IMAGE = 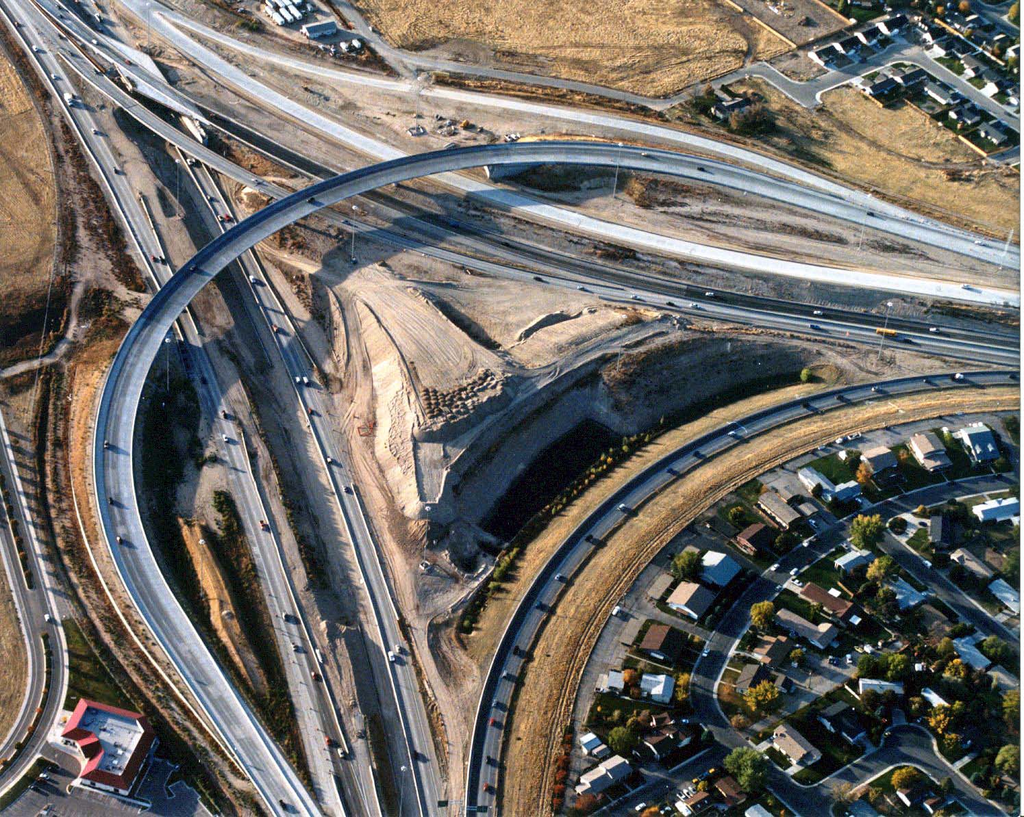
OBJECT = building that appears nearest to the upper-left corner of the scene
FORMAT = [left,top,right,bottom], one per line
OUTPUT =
[300,21,339,38]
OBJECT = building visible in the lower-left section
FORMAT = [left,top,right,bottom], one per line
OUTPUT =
[62,699,157,794]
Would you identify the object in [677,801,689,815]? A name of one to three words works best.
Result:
vehicle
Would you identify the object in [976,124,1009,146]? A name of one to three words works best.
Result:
house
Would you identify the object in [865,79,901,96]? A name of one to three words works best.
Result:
house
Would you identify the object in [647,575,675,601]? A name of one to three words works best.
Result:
building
